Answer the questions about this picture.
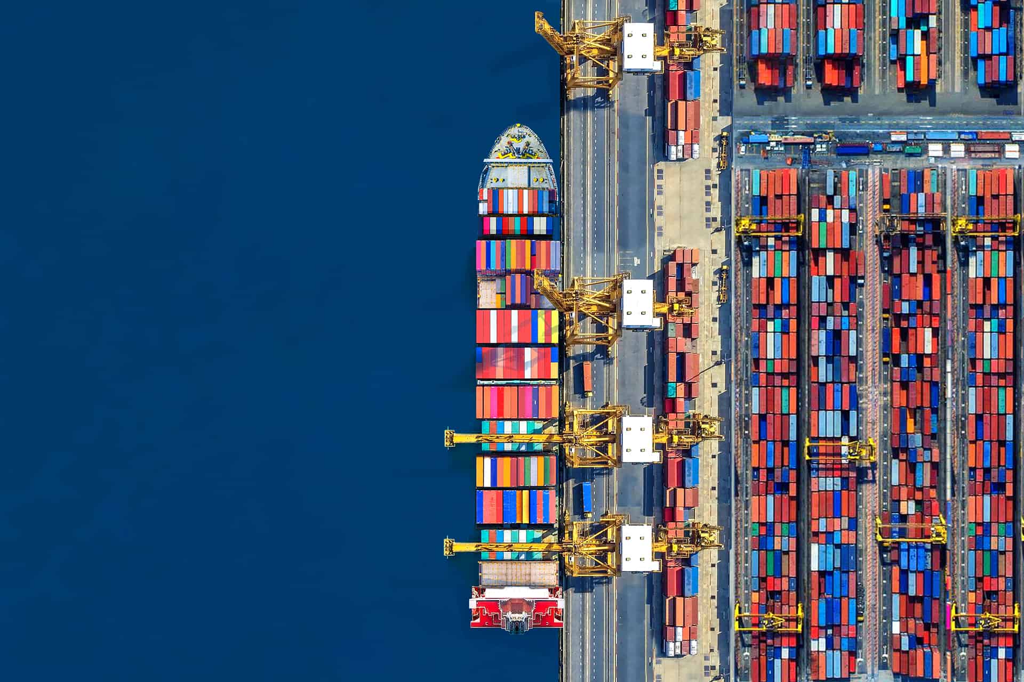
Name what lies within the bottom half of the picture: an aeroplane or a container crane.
container crane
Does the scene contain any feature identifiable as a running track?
No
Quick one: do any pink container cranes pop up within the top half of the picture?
No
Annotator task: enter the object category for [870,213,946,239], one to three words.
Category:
container crane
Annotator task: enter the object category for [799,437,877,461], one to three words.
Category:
container crane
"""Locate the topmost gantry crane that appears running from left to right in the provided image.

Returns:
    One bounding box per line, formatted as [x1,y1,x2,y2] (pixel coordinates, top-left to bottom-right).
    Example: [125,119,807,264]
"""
[536,10,722,96]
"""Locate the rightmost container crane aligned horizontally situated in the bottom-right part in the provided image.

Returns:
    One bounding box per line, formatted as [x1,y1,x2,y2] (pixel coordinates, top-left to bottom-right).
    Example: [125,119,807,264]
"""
[942,604,1020,631]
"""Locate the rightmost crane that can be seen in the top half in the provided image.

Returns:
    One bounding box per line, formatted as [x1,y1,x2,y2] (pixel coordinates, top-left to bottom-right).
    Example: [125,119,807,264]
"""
[942,214,1020,241]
